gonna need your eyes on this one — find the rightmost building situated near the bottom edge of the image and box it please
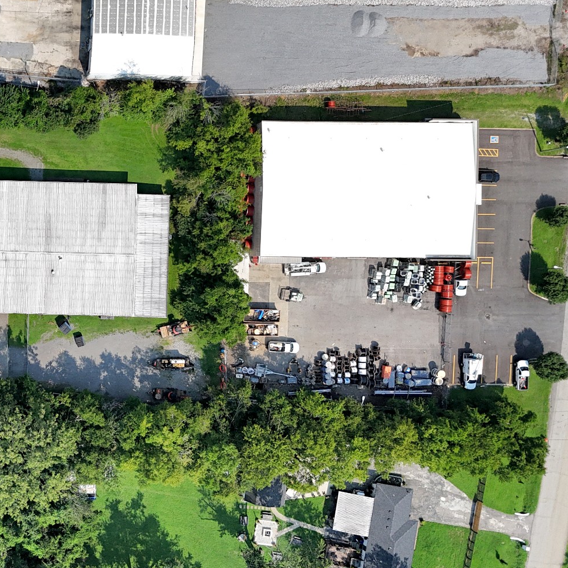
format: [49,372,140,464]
[363,484,419,568]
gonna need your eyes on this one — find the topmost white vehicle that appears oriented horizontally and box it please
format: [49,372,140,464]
[283,260,325,275]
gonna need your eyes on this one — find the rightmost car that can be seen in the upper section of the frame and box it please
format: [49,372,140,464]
[479,169,502,183]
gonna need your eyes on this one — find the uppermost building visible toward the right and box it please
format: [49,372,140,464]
[250,118,484,264]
